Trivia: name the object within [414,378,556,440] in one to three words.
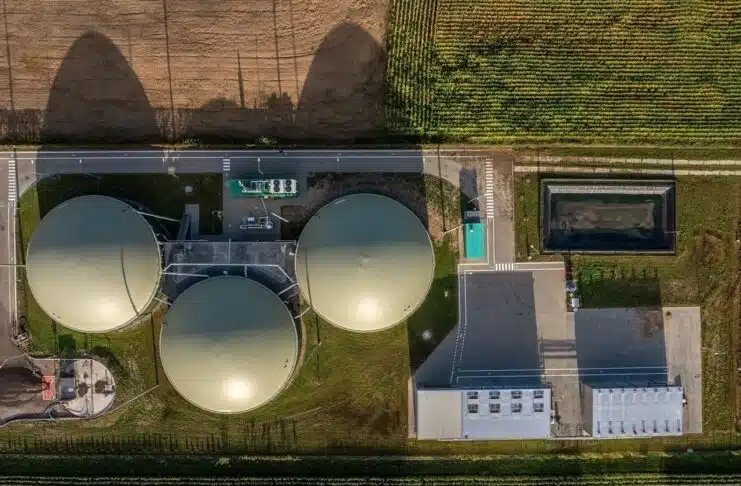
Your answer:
building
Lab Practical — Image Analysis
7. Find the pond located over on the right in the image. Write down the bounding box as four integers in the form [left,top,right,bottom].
[541,179,678,254]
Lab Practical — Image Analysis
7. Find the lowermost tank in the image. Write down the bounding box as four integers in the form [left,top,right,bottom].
[161,270,305,413]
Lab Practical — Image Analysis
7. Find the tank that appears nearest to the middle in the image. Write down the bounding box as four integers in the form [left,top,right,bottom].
[295,192,436,332]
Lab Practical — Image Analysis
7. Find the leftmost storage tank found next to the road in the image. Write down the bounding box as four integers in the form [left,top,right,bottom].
[24,195,174,332]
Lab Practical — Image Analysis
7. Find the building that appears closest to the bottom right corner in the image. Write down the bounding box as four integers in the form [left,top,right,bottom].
[579,380,685,438]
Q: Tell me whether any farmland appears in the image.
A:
Yes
